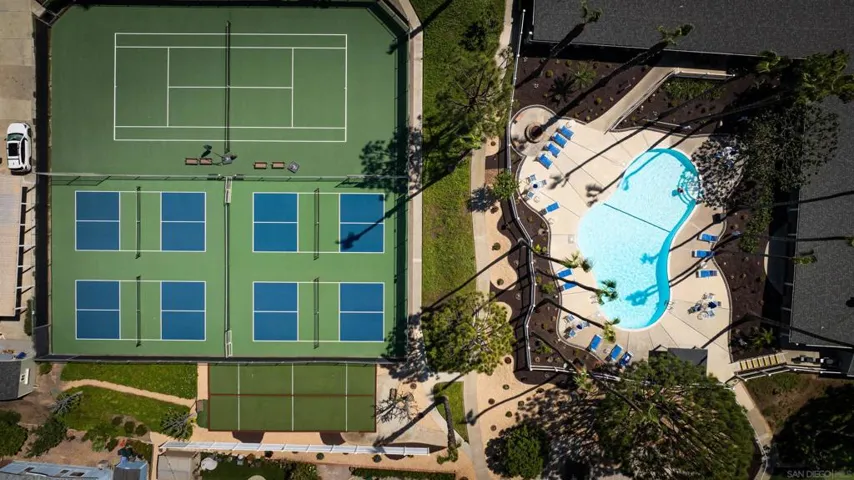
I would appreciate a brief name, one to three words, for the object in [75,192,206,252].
sports court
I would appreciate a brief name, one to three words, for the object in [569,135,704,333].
swimming pool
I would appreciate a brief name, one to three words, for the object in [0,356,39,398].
house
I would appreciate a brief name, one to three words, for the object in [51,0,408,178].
tennis court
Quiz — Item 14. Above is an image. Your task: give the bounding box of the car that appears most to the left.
[4,124,31,172]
